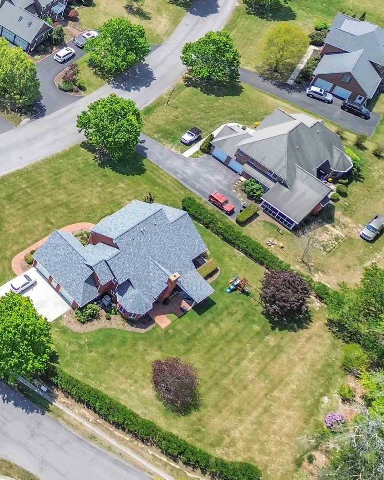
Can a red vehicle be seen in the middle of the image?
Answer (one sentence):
Yes, a red vehicle can be seen in the middle of the image.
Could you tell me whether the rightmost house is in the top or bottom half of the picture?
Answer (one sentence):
The rightmost house is in the top half of the image.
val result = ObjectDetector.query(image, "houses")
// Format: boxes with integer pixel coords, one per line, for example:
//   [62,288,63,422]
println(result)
[0,0,71,51]
[210,95,358,231]
[308,11,384,108]
[33,199,215,322]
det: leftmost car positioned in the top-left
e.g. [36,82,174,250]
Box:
[52,47,77,62]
